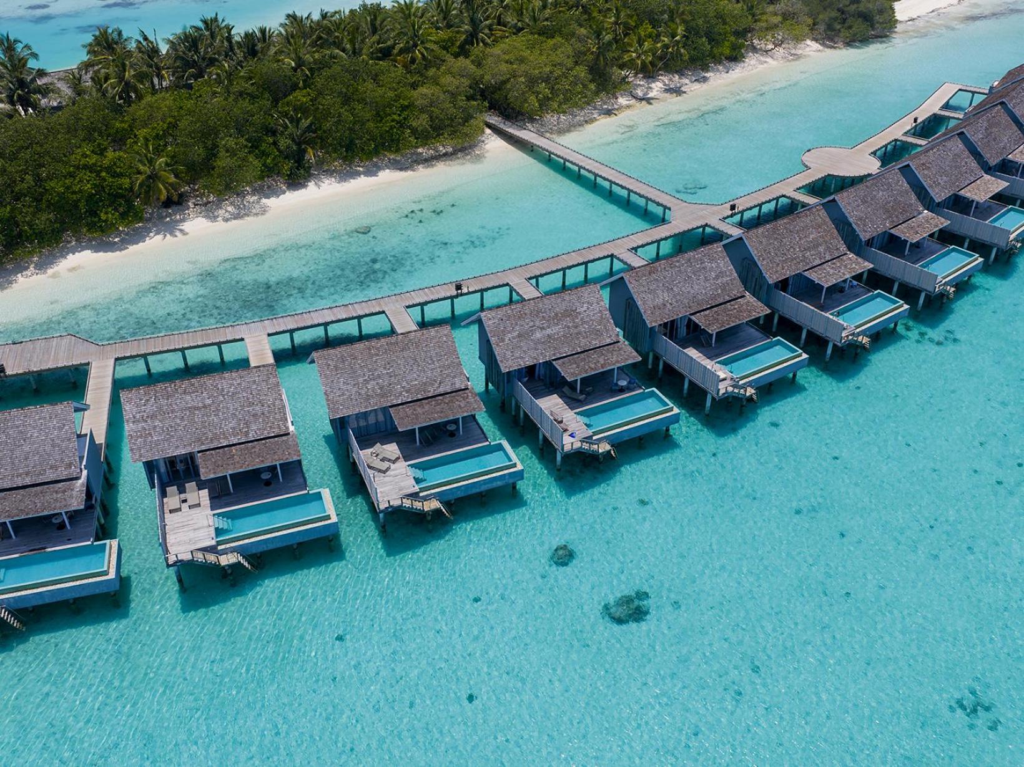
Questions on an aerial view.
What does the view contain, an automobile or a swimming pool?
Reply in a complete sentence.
This aerial view contains a swimming pool.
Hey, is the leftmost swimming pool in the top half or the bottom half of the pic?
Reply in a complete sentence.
You can find the leftmost swimming pool in the bottom half.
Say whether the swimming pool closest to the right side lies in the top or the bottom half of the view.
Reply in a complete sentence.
The swimming pool closest to the right side is in the top half of the image.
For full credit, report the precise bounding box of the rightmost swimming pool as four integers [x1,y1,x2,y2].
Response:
[981,205,1024,241]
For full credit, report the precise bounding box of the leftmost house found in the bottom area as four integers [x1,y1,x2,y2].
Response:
[0,402,112,556]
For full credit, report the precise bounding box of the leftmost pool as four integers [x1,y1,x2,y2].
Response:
[0,539,120,609]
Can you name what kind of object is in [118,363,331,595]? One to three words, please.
house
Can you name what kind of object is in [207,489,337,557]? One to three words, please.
swimming pool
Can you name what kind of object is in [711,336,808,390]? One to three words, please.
swimming pool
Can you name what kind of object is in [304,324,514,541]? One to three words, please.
house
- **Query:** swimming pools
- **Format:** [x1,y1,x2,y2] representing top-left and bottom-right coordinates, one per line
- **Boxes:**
[912,245,983,287]
[711,336,808,390]
[405,440,523,503]
[0,539,120,609]
[824,290,909,338]
[207,489,337,557]
[571,387,680,445]
[981,205,1024,241]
